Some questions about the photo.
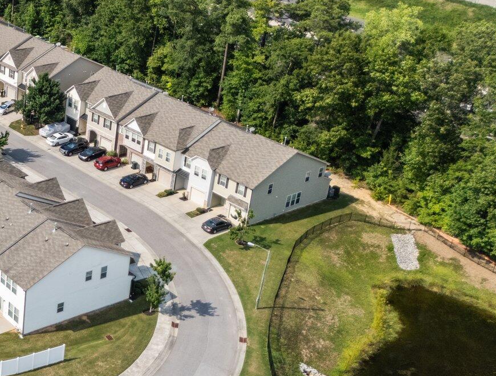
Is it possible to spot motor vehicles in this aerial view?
Yes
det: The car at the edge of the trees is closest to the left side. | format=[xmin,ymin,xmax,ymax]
[0,98,21,111]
